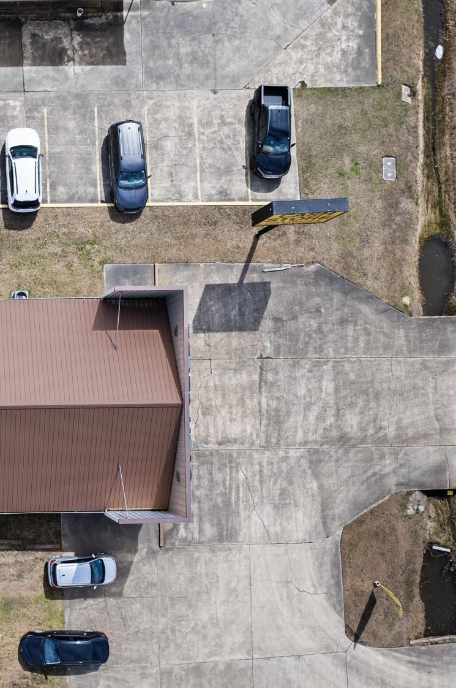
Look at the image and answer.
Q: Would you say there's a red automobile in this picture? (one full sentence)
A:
No, no red automobile is visible in the scene.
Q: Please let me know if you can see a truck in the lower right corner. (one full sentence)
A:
No, the scene shows no truck in the lower right corner.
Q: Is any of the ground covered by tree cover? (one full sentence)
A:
No, no tree cover is visible.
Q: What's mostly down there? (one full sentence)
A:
What you mostly see from above here is paved ground.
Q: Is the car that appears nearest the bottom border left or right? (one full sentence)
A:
You can find the car that appears nearest the bottom border on the left side of the picture.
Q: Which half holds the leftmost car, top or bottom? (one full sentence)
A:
The leftmost car is in the top half of the image.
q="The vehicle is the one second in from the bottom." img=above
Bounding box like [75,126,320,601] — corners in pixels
[46,552,117,593]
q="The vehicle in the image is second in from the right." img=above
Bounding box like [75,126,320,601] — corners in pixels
[107,120,153,214]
